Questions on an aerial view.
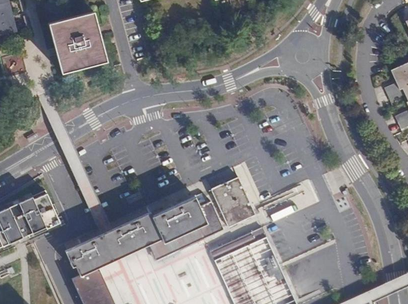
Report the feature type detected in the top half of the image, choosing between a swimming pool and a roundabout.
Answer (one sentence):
It is a roundabout that can be seen in the top half of the image.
